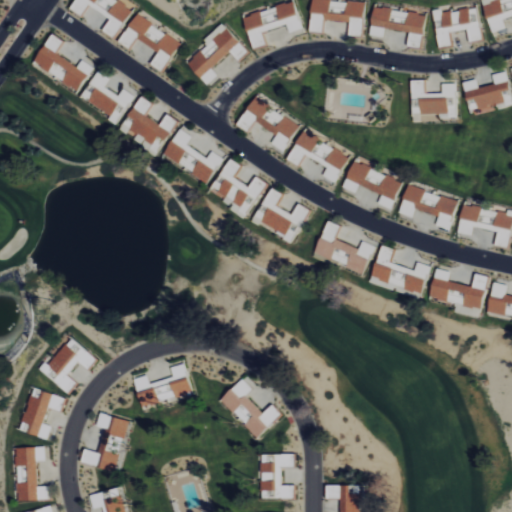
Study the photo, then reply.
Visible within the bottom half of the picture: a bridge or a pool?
pool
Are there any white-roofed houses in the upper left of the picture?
Yes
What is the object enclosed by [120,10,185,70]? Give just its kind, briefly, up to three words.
house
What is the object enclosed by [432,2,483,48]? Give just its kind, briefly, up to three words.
house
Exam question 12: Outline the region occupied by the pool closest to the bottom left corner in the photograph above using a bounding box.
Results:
[166,471,211,512]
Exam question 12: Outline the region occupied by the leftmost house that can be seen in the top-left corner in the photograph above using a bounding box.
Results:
[33,34,91,92]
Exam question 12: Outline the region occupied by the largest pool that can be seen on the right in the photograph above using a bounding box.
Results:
[326,78,374,123]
